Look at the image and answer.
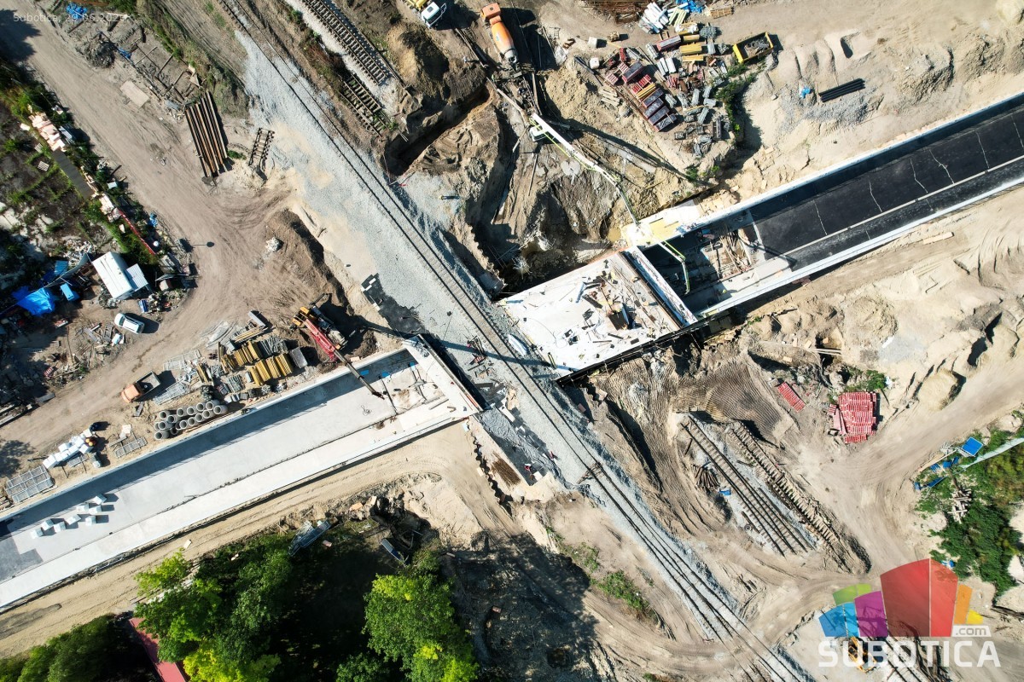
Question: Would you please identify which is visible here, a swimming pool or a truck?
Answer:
truck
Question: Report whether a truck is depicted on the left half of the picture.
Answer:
Yes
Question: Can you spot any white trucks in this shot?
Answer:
Yes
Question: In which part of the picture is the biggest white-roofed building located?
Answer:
left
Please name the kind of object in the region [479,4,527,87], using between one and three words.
truck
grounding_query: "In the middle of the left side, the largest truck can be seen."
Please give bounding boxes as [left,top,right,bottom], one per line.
[116,367,169,408]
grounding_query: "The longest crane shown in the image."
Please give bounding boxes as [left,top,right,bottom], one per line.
[283,284,391,404]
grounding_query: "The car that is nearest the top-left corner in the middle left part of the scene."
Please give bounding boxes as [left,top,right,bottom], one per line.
[114,311,150,337]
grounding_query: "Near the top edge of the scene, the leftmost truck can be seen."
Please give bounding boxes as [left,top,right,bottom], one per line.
[389,0,449,38]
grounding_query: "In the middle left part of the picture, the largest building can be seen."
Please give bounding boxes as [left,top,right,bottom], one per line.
[92,251,142,300]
